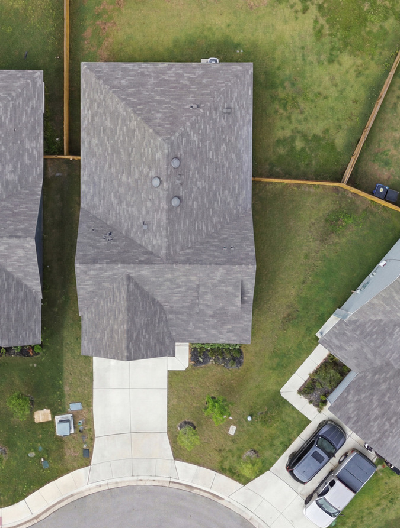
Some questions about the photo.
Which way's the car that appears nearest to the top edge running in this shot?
at an angle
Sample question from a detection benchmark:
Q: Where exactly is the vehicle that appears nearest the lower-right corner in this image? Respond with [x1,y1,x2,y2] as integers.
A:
[302,449,374,528]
